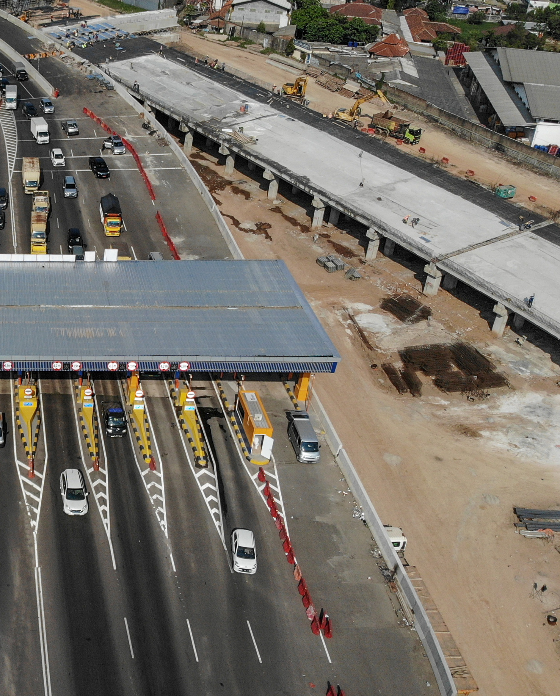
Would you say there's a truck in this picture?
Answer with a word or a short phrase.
Yes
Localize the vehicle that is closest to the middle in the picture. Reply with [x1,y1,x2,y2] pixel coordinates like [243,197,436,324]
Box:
[288,410,322,461]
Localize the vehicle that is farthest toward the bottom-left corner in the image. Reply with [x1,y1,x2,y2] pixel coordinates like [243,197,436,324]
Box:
[59,469,91,517]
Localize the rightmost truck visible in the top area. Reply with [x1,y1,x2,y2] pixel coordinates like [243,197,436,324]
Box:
[373,109,430,143]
